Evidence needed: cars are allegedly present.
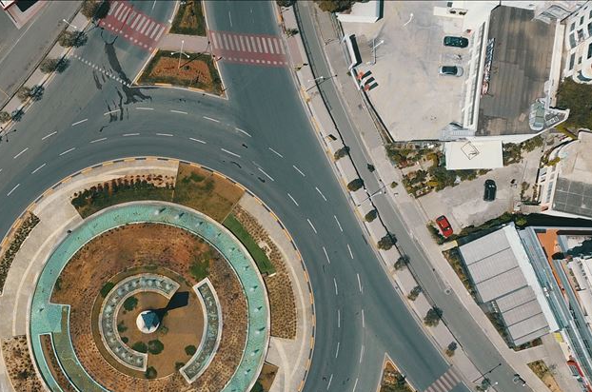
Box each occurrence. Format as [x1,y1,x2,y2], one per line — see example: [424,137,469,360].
[485,178,499,201]
[436,213,455,239]
[444,35,469,46]
[440,62,465,76]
